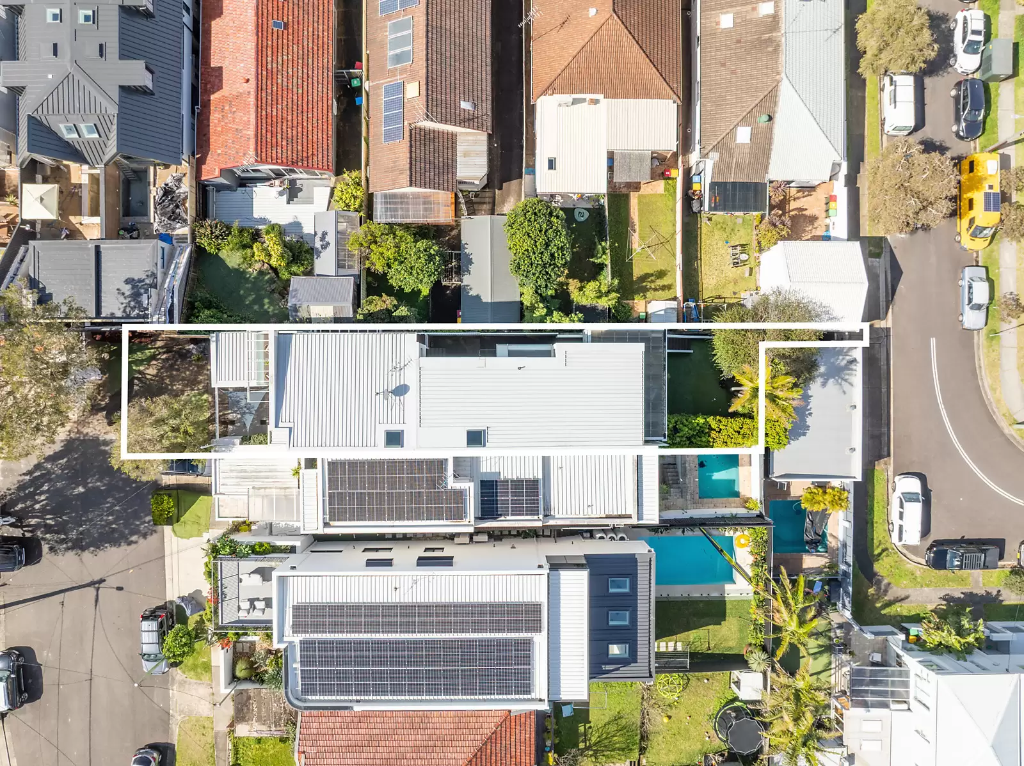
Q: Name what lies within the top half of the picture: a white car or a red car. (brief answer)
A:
white car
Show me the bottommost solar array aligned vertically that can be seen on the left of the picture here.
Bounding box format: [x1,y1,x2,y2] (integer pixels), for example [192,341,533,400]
[381,80,403,142]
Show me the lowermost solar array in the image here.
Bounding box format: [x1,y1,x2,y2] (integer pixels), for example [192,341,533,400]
[298,641,535,698]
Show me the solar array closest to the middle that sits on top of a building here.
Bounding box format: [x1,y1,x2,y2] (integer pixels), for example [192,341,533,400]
[479,480,540,517]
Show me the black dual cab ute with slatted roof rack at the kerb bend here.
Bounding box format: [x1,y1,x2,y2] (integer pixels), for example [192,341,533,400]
[923,537,1003,574]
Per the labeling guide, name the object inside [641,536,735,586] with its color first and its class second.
blue swimming pool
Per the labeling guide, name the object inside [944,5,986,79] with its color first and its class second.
white car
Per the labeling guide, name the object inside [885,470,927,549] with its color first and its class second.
white car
